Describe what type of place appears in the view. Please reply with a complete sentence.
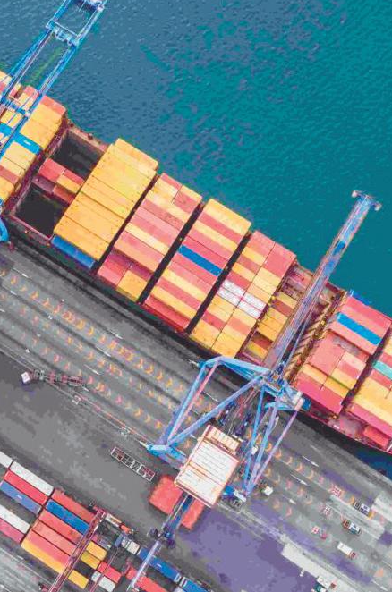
This looks like a port.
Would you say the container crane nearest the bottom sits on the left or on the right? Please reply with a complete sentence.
The container crane nearest the bottom sits on the left side.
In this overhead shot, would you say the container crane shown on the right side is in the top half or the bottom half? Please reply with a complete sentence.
Seen from above, the container crane shown on the right side lies in the bottom half of the view.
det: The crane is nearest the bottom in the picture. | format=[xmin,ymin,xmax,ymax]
[36,493,133,592]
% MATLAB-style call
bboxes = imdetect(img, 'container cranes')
[131,184,388,592]
[0,0,112,254]
[36,493,133,592]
